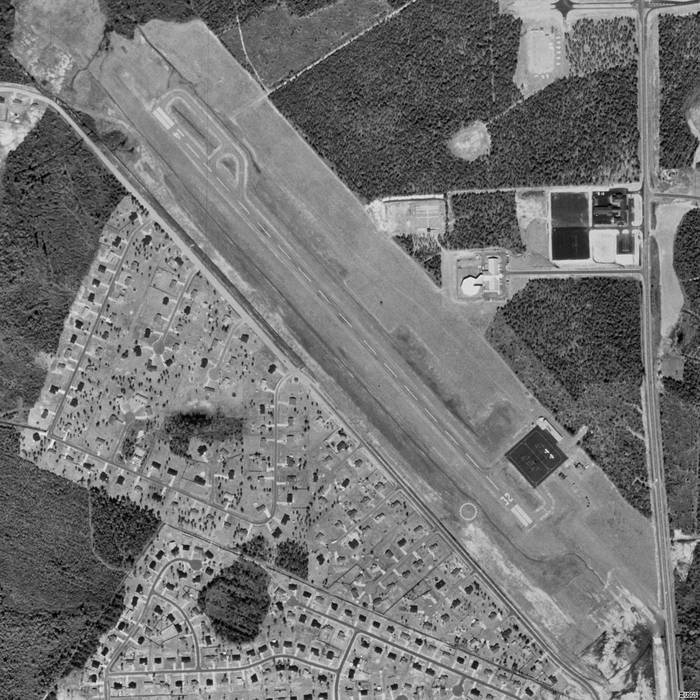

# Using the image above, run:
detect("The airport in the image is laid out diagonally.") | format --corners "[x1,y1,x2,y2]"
[149,89,569,535]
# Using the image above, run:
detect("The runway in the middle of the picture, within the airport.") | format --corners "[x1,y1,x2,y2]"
[149,103,540,535]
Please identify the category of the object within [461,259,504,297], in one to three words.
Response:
building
